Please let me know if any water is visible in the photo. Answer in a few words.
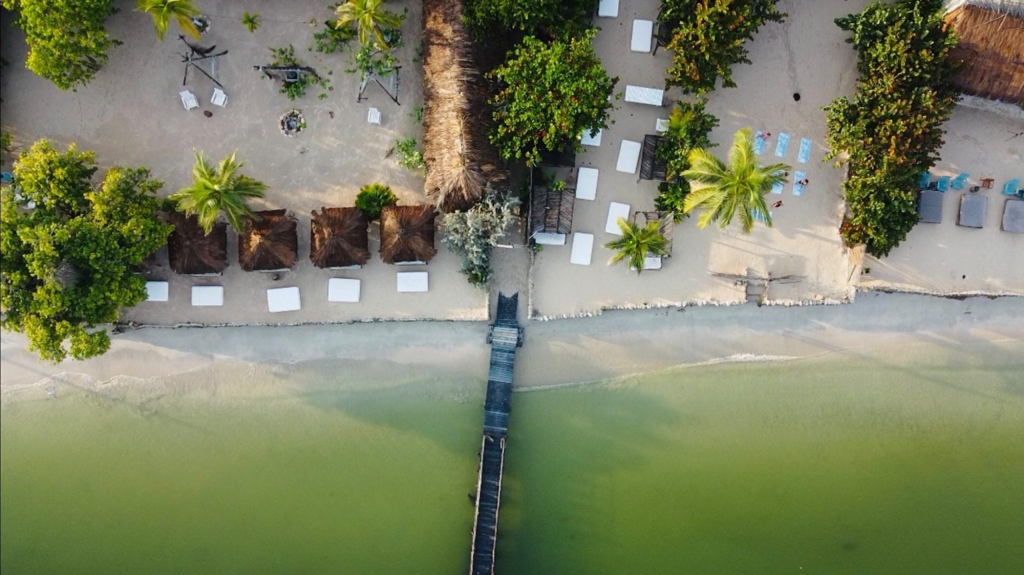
Yes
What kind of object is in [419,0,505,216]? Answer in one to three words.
building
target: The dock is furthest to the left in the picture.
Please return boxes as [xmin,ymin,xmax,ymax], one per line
[467,293,524,575]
